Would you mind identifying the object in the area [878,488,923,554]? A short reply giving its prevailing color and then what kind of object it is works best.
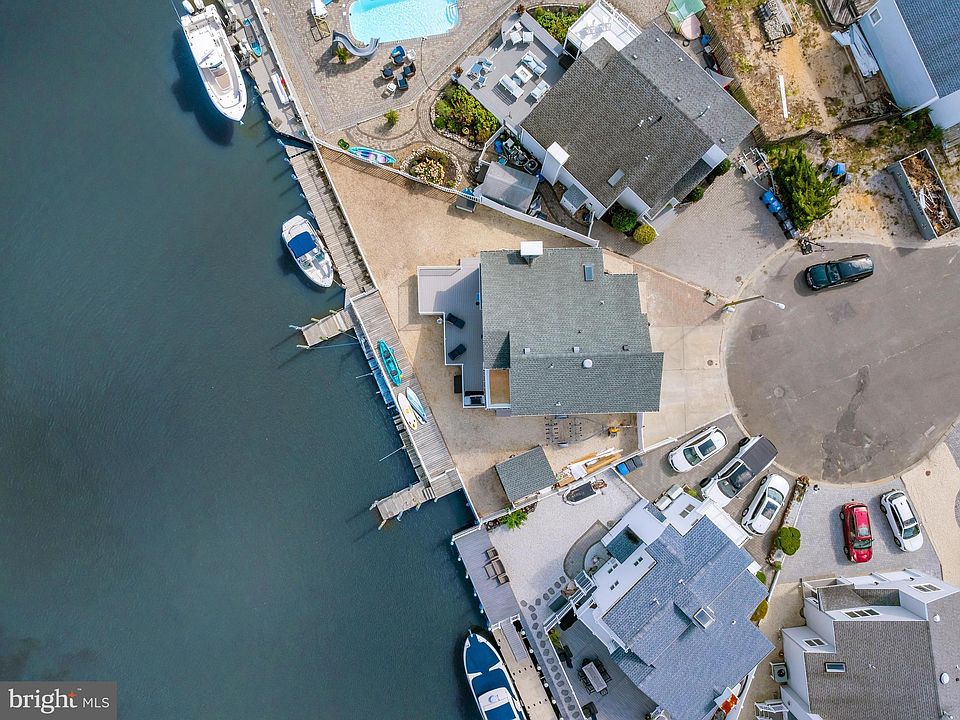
white car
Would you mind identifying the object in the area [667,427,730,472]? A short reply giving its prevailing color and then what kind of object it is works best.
white car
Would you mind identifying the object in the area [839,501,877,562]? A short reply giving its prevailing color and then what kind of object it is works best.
red car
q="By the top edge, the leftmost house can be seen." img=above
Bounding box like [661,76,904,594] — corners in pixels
[458,0,758,236]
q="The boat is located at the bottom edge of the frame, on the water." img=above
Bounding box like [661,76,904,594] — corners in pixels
[464,630,523,720]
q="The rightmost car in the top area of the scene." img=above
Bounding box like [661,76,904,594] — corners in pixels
[804,253,878,292]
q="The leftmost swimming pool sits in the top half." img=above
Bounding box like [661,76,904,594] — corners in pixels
[344,0,464,48]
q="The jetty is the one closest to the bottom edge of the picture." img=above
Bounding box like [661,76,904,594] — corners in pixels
[490,613,560,720]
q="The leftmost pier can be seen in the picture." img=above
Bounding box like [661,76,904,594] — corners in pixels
[235,0,311,140]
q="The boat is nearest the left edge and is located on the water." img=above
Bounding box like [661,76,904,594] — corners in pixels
[166,0,247,121]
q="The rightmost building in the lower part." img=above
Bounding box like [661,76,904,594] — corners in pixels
[751,563,960,720]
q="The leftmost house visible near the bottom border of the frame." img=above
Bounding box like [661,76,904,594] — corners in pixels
[543,488,776,720]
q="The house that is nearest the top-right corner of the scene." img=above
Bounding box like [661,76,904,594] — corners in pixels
[858,0,960,170]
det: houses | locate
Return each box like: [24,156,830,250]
[543,488,776,720]
[458,0,758,236]
[751,563,960,720]
[858,0,960,170]
[417,241,664,417]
